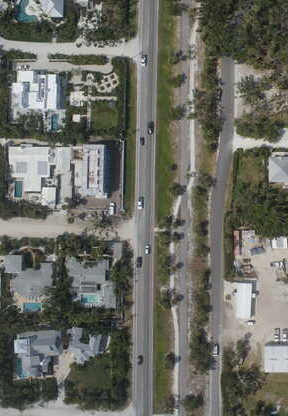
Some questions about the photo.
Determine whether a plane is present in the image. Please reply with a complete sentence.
No, this view has no plane in it.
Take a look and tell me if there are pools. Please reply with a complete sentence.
Yes, I can see a pool in this picture.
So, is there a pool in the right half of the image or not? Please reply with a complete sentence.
No, looking in the right half of the image, there is no pool.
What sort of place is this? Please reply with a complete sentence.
The picture captures a residential area.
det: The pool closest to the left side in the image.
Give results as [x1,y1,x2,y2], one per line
[7,177,25,201]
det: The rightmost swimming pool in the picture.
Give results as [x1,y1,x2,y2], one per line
[72,293,96,308]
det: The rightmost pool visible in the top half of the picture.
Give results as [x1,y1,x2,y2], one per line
[44,110,66,132]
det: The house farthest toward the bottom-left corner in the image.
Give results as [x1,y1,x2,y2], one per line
[14,329,67,378]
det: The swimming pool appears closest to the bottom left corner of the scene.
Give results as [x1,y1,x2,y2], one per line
[13,356,56,380]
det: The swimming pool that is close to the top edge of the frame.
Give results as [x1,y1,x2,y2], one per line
[14,0,58,24]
